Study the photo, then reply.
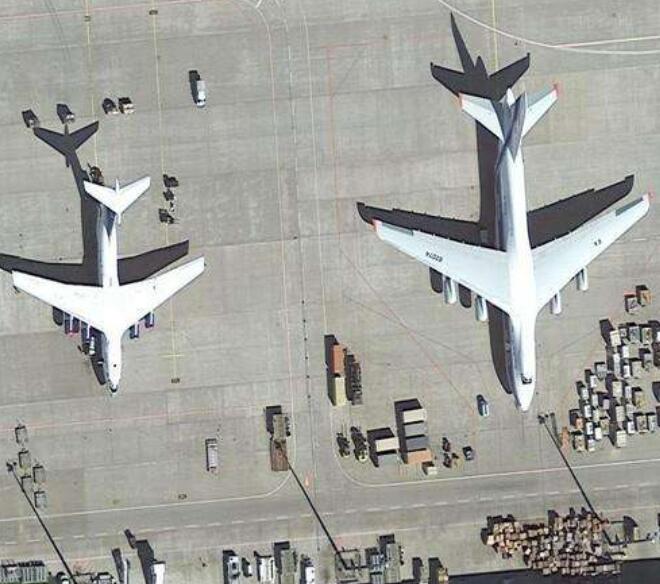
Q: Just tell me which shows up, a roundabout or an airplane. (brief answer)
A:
airplane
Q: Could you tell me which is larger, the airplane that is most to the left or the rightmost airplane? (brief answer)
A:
the rightmost airplane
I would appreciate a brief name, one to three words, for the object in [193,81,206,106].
vehicle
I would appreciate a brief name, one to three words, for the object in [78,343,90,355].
vehicle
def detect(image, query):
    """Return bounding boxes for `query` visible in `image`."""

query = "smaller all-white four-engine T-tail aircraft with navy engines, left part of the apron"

[10,174,204,393]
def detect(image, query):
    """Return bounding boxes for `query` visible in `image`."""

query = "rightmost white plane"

[374,83,650,411]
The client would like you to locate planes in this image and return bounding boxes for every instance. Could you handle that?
[10,174,204,393]
[374,83,650,411]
